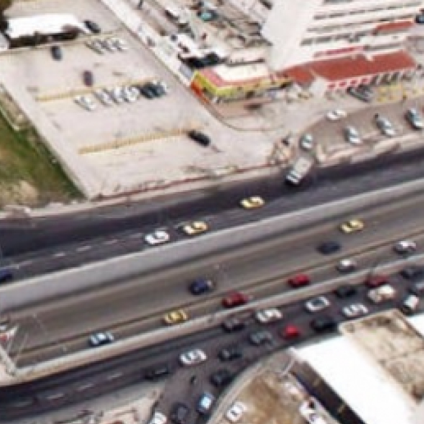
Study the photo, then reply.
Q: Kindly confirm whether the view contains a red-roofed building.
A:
Yes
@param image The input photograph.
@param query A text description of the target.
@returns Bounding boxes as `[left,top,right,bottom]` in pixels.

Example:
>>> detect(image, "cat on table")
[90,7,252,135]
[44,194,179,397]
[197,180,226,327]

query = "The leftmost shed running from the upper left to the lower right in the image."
[138,0,169,35]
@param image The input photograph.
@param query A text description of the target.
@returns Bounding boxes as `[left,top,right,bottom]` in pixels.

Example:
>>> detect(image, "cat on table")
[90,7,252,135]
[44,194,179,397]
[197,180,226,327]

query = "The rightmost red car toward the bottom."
[364,275,391,290]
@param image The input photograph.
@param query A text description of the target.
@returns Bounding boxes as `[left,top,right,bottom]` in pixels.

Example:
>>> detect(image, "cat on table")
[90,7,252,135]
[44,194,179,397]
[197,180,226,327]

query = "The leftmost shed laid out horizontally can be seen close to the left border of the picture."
[5,14,91,52]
